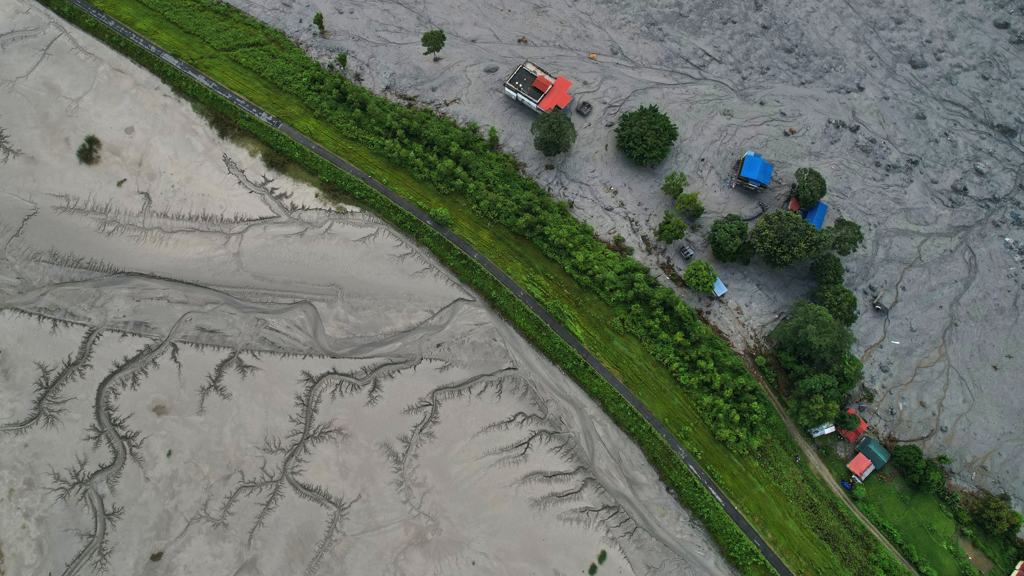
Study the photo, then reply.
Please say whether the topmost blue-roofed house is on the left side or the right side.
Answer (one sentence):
It is on the right.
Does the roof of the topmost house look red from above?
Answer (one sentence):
Yes, the roof of the topmost house appears red.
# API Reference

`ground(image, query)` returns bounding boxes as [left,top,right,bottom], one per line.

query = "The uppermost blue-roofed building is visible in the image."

[735,151,774,191]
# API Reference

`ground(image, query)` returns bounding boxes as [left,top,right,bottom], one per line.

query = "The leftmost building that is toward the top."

[503,58,573,115]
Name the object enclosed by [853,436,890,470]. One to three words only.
building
